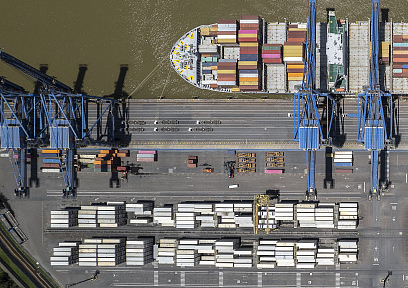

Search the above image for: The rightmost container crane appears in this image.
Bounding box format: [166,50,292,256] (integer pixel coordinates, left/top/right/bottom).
[356,0,401,201]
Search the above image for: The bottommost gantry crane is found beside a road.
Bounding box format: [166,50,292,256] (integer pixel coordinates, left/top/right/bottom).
[253,190,277,236]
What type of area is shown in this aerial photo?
port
